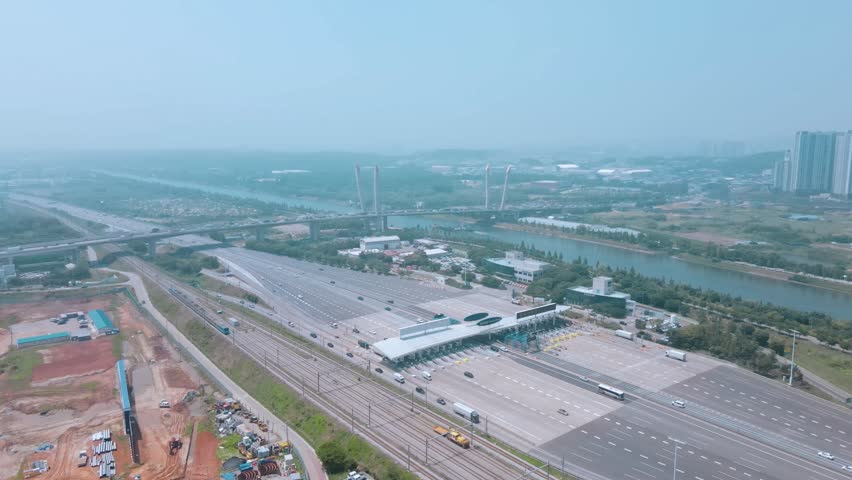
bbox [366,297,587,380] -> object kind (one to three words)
toll station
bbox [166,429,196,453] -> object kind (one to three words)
work vehicle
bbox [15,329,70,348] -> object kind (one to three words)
shed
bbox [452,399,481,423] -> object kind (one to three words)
truck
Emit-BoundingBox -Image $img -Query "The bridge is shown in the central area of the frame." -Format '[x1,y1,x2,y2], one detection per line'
[0,163,691,261]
